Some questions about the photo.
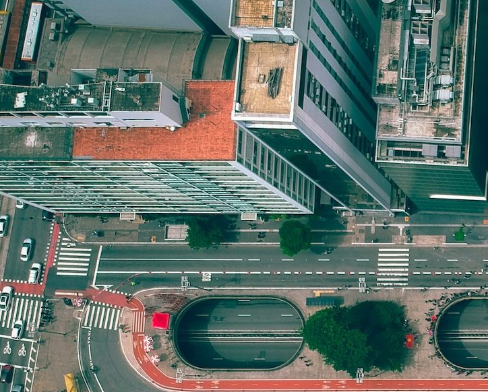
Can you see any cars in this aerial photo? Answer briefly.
Yes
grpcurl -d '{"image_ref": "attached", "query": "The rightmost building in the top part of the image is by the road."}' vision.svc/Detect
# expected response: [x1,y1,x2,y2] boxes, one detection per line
[374,0,488,214]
